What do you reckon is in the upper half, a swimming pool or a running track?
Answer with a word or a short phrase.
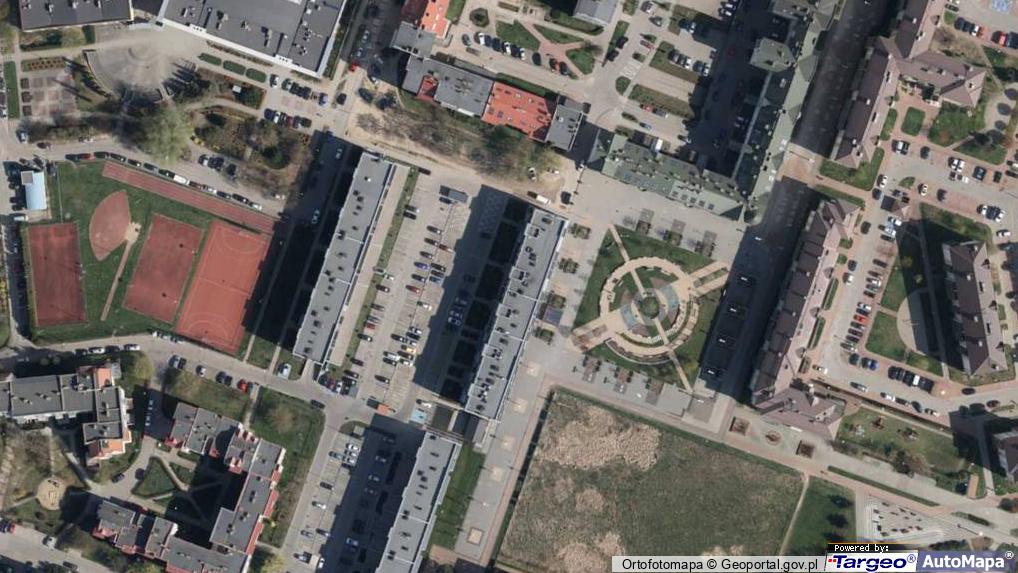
running track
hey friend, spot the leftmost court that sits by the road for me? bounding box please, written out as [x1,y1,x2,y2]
[28,222,86,326]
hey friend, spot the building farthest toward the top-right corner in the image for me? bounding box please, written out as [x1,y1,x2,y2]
[834,0,985,170]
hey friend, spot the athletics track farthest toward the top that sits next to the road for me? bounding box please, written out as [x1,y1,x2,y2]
[101,160,276,235]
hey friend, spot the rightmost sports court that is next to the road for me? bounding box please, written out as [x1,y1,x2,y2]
[175,221,271,357]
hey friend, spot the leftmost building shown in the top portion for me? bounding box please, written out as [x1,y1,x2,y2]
[21,171,50,211]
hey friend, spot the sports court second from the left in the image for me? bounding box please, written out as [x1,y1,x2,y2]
[122,212,204,324]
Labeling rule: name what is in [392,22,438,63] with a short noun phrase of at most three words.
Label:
house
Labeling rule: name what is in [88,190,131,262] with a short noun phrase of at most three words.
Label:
sports field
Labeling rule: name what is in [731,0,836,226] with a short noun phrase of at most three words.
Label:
house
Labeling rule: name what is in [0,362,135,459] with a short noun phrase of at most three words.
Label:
building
